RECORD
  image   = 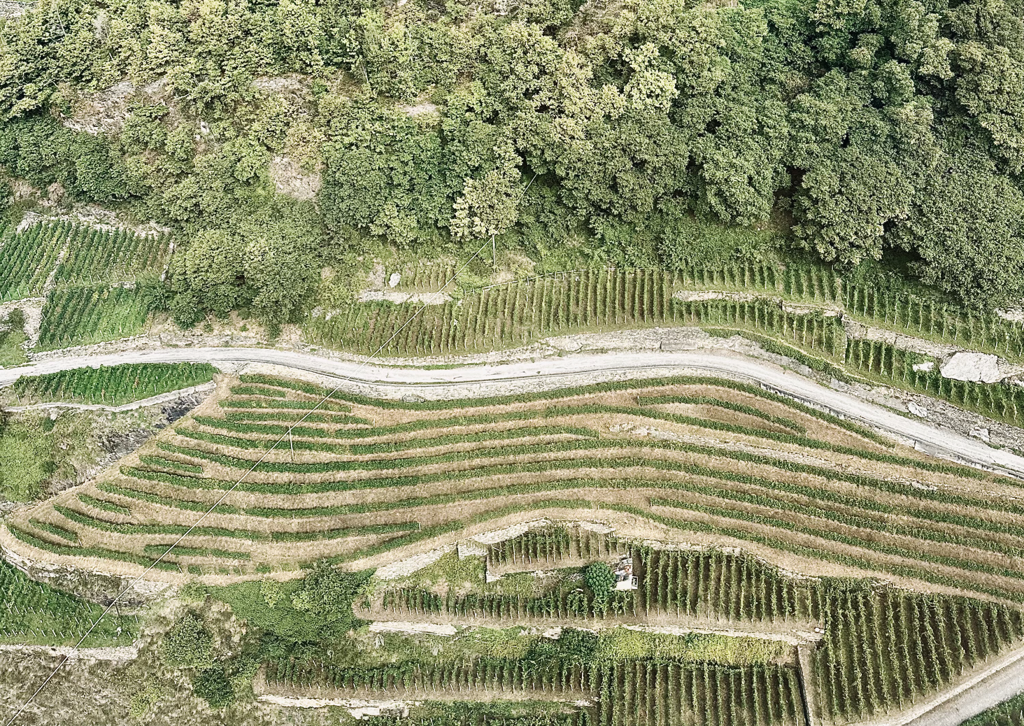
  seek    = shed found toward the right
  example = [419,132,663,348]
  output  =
[612,554,633,593]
